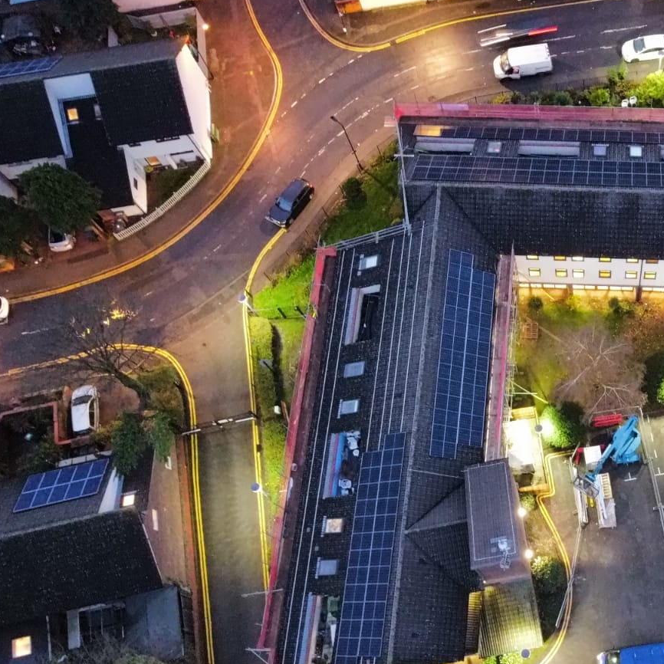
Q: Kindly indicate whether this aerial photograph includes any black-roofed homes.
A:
Yes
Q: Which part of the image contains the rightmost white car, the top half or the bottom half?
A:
top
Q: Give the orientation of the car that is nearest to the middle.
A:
on a diagonal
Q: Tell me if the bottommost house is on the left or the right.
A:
left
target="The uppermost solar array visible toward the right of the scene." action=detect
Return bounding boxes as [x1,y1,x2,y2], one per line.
[439,126,664,146]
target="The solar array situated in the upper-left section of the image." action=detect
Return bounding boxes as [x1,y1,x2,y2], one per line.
[0,58,59,77]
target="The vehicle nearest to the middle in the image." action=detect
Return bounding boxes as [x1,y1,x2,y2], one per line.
[260,177,314,230]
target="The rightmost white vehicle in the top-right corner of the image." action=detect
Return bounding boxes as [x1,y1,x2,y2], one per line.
[624,34,664,64]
